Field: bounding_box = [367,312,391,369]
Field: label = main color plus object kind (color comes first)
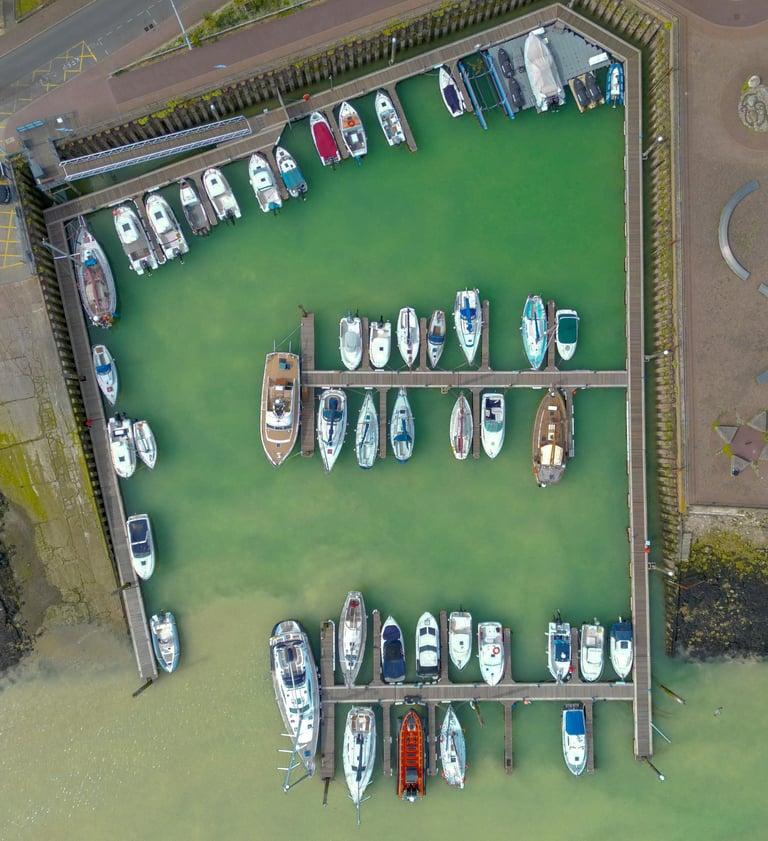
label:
white boat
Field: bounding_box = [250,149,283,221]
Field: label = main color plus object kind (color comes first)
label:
white boat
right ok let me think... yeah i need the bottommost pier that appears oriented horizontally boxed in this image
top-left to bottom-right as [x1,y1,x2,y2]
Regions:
[335,682,634,702]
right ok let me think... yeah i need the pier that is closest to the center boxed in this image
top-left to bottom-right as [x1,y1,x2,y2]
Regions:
[375,388,391,458]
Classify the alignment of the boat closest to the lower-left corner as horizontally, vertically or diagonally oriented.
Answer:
vertically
